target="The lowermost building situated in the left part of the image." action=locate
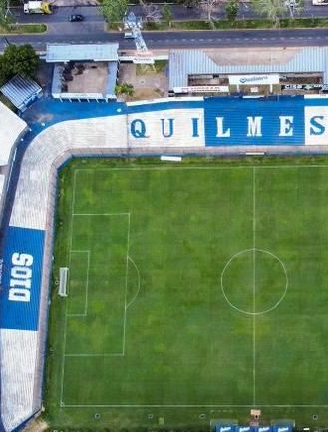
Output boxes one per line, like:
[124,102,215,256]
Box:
[46,43,123,104]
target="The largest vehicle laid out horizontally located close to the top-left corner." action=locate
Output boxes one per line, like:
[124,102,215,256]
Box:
[23,1,52,14]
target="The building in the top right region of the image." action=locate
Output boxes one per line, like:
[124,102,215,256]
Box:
[170,46,328,97]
